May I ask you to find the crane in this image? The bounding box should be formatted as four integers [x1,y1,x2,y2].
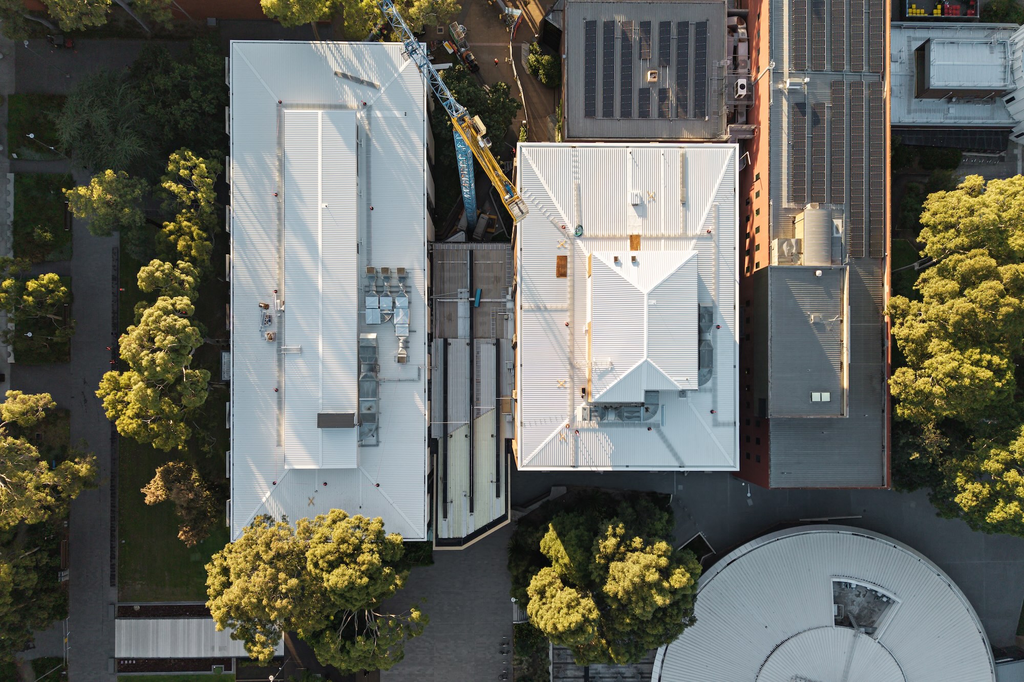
[376,0,532,237]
